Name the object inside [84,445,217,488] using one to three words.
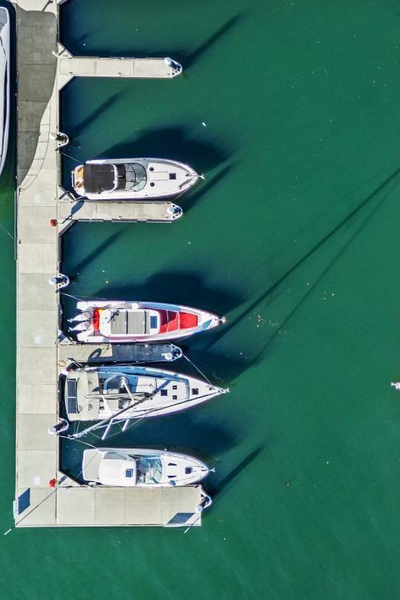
boat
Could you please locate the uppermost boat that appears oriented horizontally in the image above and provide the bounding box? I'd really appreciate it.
[71,159,205,200]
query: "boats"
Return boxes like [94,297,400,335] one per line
[71,159,205,200]
[60,367,228,438]
[69,301,228,342]
[84,445,217,488]
[0,6,15,194]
